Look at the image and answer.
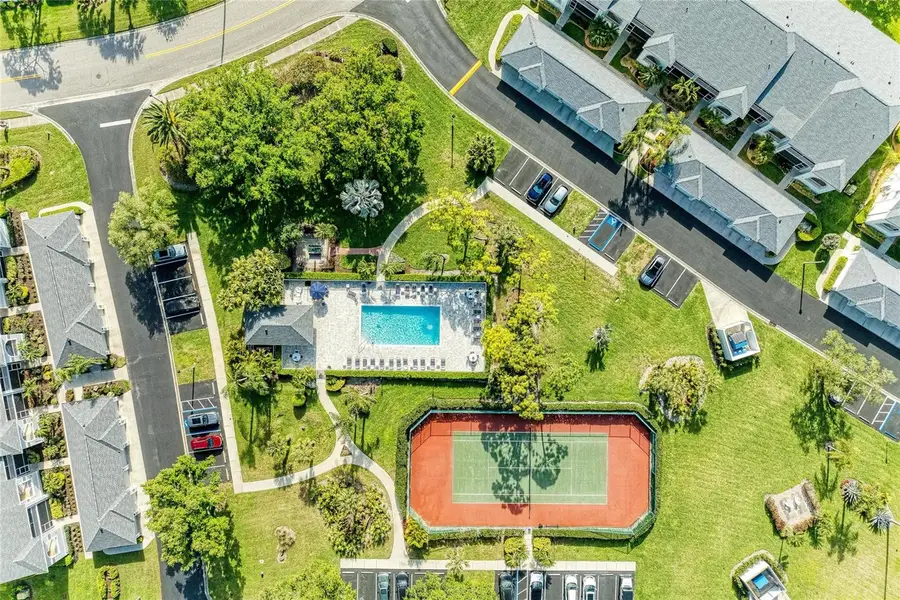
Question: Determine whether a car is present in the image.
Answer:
Yes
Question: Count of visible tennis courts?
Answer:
1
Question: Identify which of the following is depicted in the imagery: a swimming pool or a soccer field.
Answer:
swimming pool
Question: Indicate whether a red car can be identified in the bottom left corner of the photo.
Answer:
Yes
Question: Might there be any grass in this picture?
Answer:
Yes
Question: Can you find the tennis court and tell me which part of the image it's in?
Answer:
bottom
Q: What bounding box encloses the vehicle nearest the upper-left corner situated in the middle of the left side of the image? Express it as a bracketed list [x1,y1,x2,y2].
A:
[153,246,188,264]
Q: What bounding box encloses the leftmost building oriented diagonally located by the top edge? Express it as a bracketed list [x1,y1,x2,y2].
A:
[501,16,646,147]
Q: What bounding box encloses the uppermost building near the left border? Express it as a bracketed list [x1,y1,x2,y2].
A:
[24,212,118,367]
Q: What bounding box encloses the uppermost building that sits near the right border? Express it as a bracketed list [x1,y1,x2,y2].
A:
[572,0,900,190]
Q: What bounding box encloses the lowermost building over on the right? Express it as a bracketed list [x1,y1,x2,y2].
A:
[829,250,900,347]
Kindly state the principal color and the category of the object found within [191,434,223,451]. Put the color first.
red car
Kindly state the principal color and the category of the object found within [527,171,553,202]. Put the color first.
blue car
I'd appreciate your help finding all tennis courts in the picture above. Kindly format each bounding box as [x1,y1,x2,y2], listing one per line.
[412,411,650,527]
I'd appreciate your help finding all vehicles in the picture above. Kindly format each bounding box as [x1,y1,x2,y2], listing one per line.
[530,571,545,600]
[499,573,514,600]
[564,574,579,600]
[186,411,220,427]
[640,256,665,287]
[191,434,223,451]
[527,171,553,202]
[583,575,598,600]
[153,246,188,264]
[167,300,200,316]
[375,571,390,600]
[620,576,635,600]
[395,570,410,600]
[543,184,568,215]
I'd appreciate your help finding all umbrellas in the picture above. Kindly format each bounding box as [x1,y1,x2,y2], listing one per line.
[310,282,328,300]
